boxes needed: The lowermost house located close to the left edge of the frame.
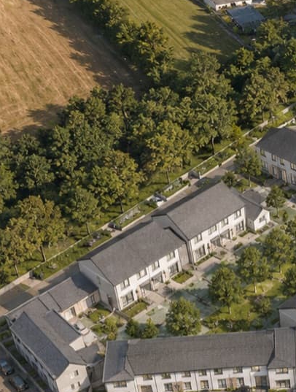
[8,309,102,392]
